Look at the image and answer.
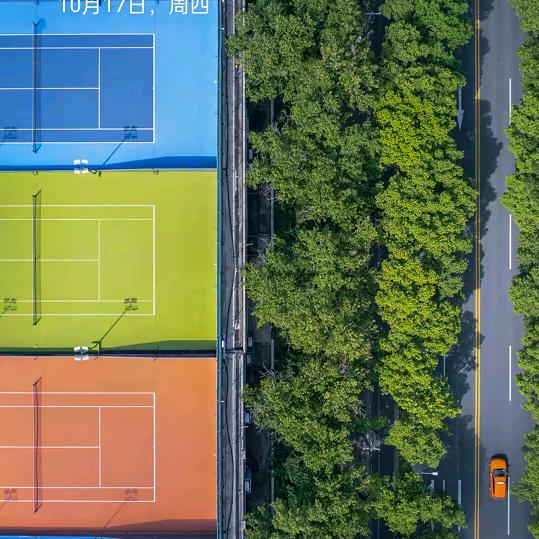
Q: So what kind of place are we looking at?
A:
sports ground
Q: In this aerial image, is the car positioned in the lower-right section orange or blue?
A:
orange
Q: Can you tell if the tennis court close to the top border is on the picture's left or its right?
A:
left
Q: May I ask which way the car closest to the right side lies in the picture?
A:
up and down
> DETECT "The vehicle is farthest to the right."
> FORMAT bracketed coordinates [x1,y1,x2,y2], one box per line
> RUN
[488,457,510,500]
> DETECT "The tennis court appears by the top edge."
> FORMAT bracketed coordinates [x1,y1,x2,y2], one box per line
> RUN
[0,1,216,170]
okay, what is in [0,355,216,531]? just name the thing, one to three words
tennis court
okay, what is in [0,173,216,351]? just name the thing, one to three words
tennis court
